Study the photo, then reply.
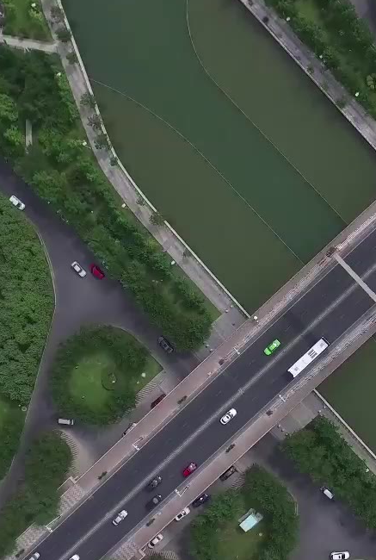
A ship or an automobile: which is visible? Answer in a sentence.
It is an automobile that can be seen here.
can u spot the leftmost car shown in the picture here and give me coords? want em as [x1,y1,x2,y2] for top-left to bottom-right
[9,194,27,211]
